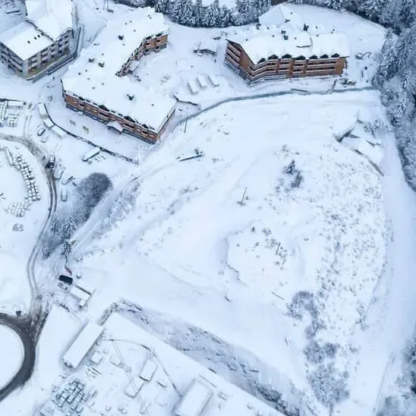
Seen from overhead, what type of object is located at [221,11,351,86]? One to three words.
house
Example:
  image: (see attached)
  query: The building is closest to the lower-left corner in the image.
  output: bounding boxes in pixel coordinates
[62,320,106,371]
